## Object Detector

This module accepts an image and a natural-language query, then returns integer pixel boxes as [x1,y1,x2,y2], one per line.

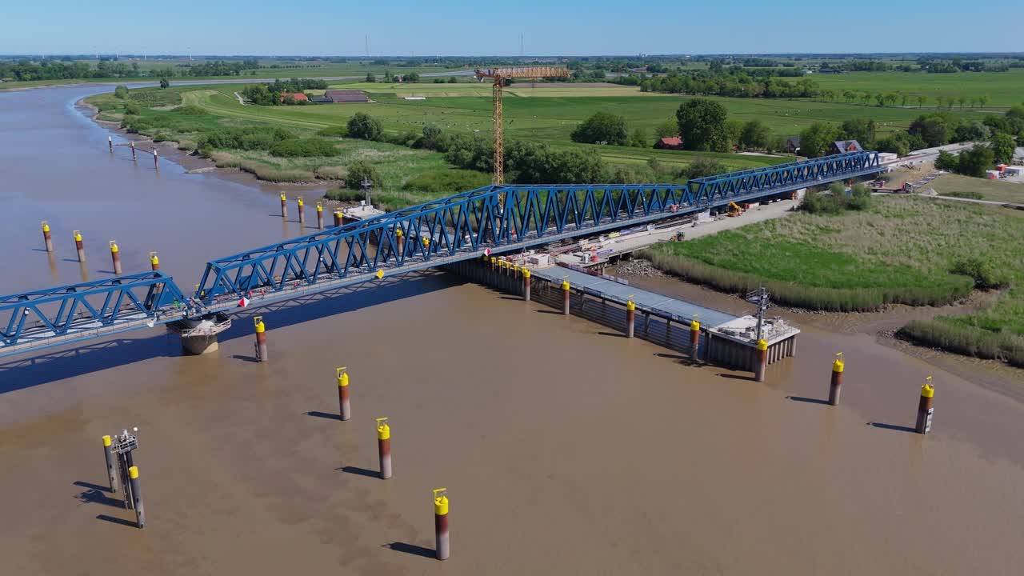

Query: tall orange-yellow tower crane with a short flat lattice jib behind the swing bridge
[477,65,570,235]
